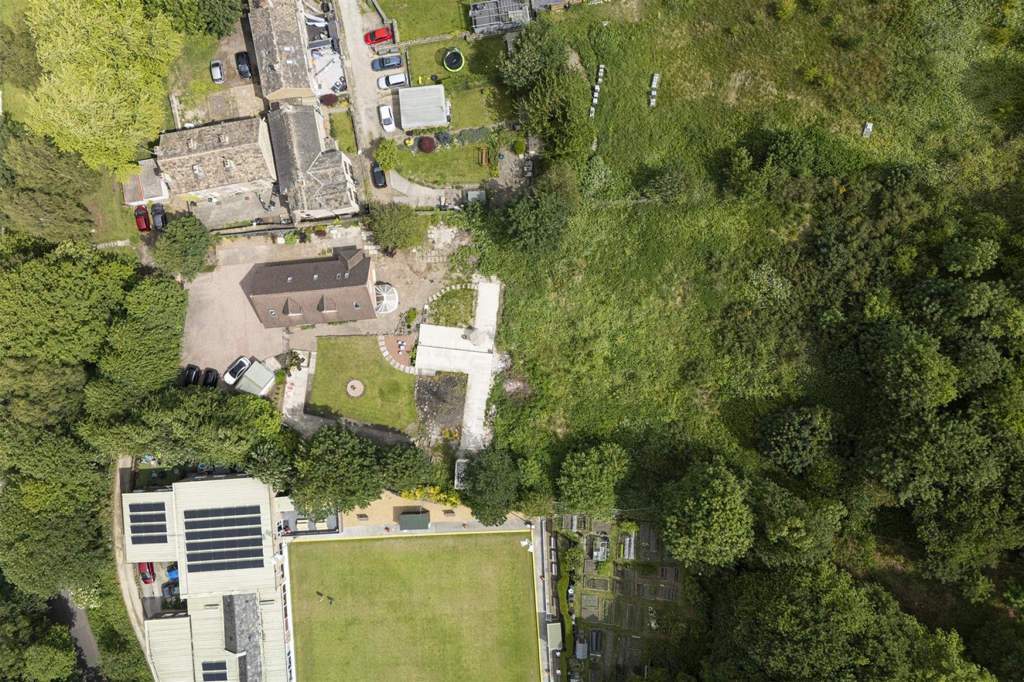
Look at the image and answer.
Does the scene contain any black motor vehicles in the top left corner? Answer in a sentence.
Yes, there is a black motor vehicle in the top left corner.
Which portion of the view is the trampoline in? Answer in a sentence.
Look in the top portion of the view to spot the trampoline.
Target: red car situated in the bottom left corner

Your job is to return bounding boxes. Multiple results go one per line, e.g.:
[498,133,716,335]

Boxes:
[138,563,156,585]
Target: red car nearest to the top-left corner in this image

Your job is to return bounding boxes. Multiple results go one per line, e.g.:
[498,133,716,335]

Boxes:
[134,205,153,234]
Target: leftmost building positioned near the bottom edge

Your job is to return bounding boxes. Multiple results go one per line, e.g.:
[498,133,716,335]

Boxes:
[121,473,301,682]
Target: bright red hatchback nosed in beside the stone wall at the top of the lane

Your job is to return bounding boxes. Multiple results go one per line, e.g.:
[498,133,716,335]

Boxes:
[366,28,394,46]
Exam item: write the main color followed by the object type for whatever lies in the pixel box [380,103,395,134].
white car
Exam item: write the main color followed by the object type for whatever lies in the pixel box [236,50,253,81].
black car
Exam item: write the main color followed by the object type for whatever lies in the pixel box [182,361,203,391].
black car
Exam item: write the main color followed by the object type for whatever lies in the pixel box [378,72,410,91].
white car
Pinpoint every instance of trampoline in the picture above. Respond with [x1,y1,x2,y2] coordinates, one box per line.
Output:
[443,44,463,67]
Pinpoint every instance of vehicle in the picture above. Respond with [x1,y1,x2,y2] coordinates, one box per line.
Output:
[161,565,177,579]
[201,364,221,394]
[161,582,178,597]
[134,205,153,234]
[366,28,394,46]
[182,361,203,391]
[380,103,395,134]
[225,356,251,385]
[209,59,226,86]
[373,55,404,73]
[378,72,410,91]
[371,162,388,190]
[151,203,169,230]
[236,50,253,81]
[138,563,156,585]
